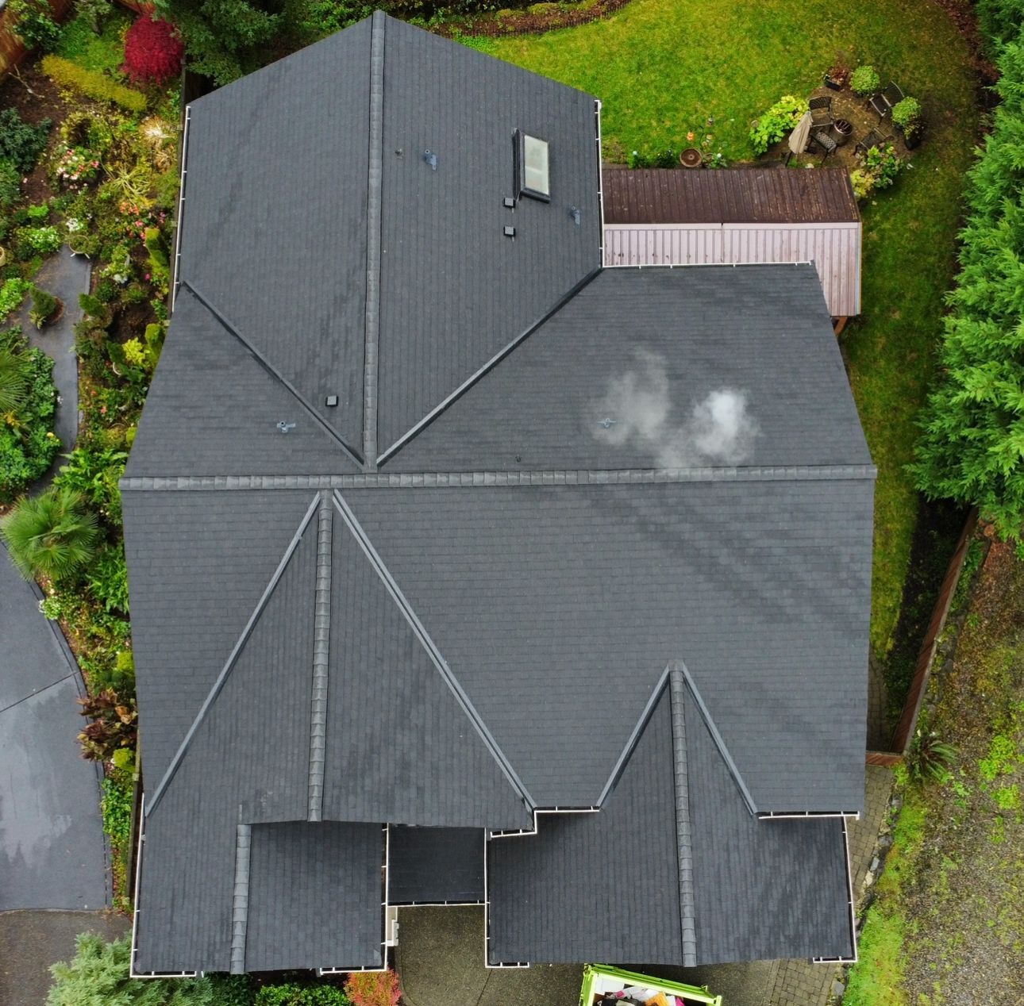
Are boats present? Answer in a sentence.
No, I can't see a single boat in this photo.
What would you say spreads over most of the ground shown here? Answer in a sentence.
For the most part, this view shows buildings.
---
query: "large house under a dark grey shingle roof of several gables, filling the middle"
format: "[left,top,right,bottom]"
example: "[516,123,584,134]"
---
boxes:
[116,9,880,975]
